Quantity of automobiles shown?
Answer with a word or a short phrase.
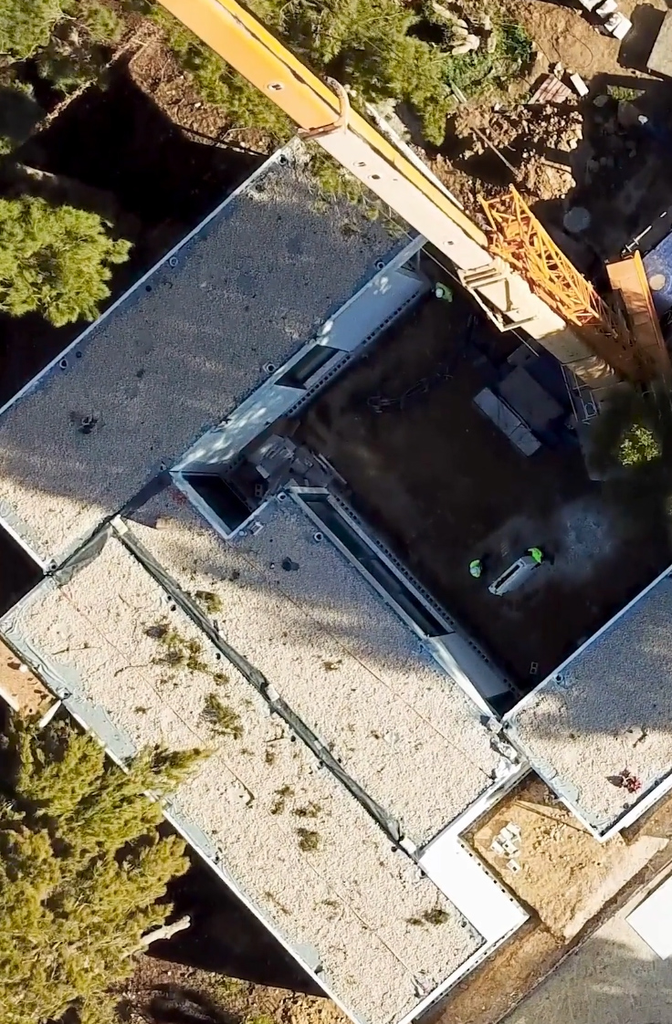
0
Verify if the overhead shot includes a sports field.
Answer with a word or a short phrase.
No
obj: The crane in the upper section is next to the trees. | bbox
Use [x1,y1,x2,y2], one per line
[155,0,672,523]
